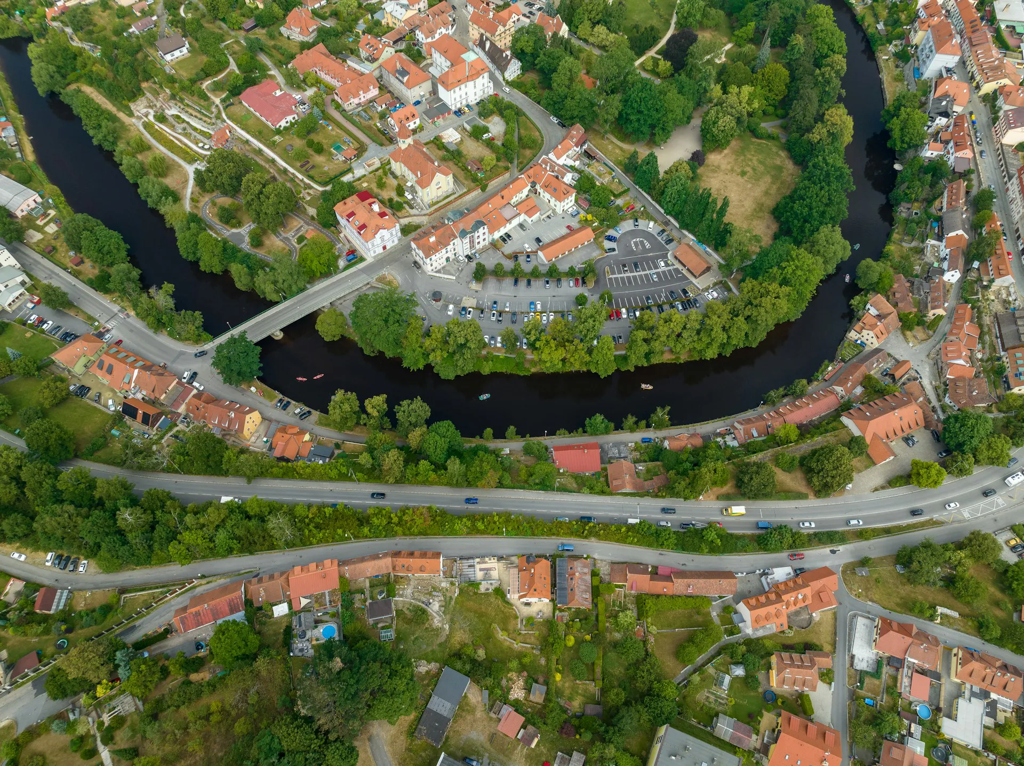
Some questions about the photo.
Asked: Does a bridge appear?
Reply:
Yes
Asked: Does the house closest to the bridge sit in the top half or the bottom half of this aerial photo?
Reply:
top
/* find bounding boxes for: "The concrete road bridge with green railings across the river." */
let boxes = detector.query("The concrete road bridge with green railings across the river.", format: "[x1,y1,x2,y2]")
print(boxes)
[200,257,383,367]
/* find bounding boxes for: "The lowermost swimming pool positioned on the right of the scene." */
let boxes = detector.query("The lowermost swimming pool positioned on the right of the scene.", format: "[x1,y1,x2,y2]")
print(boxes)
[915,702,933,722]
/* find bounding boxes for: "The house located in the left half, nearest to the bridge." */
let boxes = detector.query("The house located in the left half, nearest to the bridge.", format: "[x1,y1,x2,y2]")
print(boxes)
[334,191,400,260]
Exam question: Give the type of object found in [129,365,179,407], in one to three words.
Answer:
house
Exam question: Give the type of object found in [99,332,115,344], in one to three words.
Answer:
vehicle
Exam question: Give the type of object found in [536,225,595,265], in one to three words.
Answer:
building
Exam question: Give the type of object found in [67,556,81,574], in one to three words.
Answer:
car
